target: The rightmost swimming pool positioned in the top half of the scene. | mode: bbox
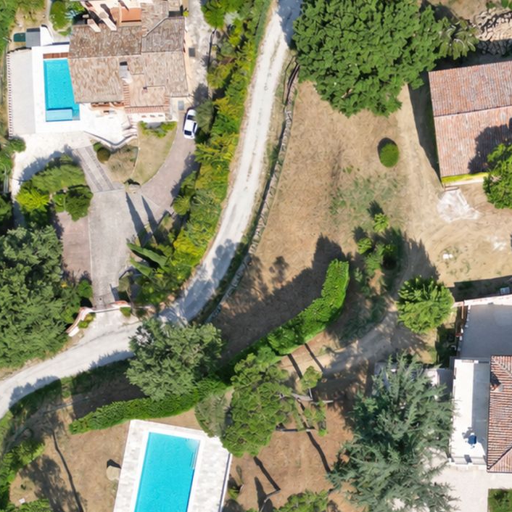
[32,45,137,141]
